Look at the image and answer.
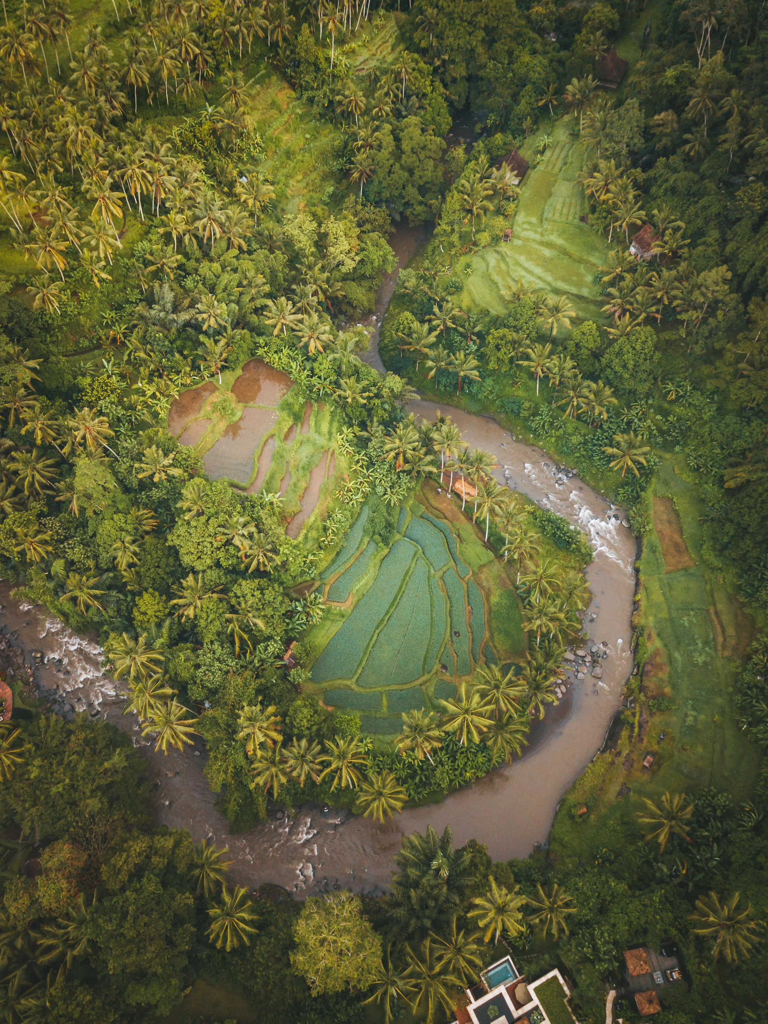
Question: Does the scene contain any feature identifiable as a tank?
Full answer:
No, I can see no tank in this picture.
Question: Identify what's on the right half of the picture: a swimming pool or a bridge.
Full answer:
Visible on the right half of the picture is a swimming pool.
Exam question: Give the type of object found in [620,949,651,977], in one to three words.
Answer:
building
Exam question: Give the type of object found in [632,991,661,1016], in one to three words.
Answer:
building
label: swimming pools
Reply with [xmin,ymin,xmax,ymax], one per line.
[478,955,524,993]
